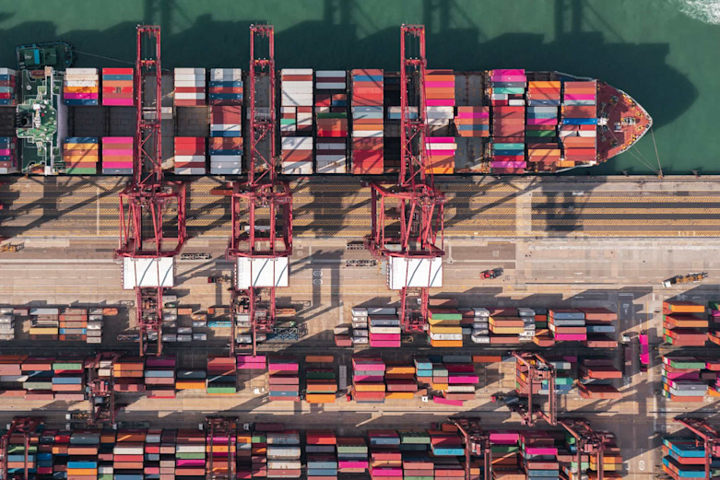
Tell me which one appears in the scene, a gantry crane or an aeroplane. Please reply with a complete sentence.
This aerial view contains a gantry crane.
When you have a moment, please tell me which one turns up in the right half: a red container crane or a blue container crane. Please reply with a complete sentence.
There is a red container crane in the right half.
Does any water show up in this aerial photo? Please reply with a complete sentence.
Yes, some water is visible.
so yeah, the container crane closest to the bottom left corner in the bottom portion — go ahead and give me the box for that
[0,416,41,480]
